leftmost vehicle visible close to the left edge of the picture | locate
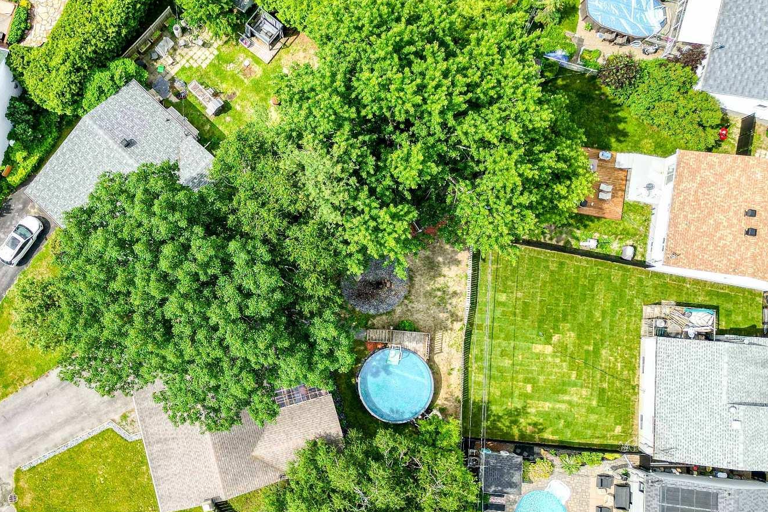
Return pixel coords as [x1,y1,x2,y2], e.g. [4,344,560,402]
[0,211,46,269]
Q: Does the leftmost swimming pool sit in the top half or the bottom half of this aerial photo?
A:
bottom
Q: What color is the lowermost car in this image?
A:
white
